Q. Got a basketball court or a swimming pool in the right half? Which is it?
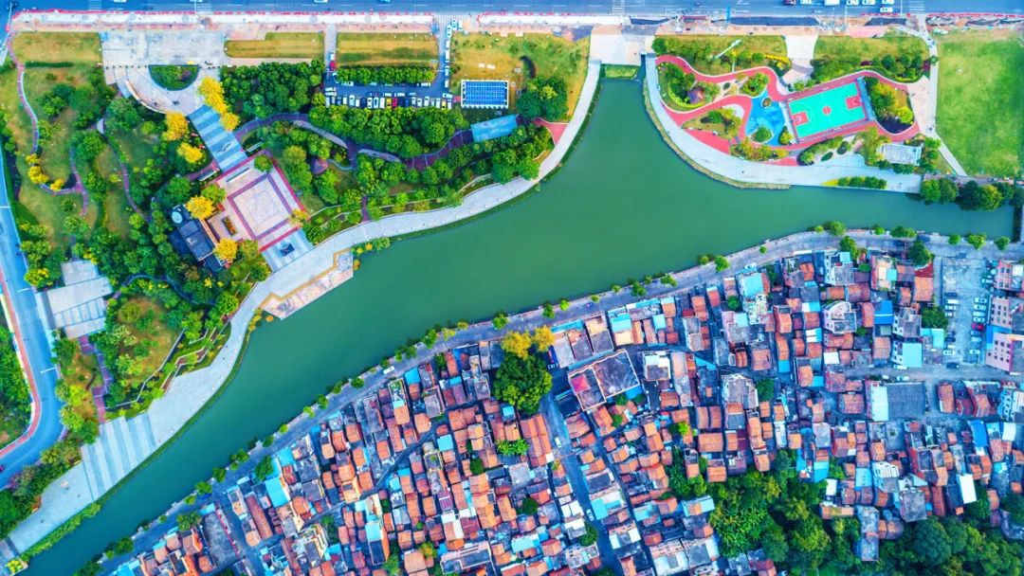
basketball court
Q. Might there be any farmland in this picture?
No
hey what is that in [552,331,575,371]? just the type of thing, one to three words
building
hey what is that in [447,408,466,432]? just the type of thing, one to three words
house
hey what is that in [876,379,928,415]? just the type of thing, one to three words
building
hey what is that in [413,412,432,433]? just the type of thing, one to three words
house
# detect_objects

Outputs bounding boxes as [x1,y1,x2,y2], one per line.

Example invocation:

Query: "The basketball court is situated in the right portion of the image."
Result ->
[785,80,868,141]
